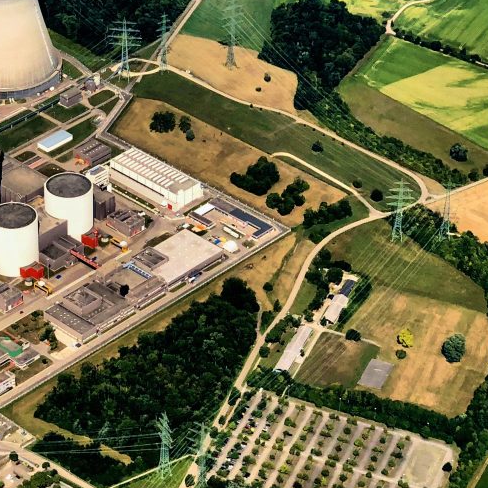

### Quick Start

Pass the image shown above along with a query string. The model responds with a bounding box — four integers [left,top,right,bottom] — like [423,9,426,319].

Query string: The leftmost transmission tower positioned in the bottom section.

[155,412,177,482]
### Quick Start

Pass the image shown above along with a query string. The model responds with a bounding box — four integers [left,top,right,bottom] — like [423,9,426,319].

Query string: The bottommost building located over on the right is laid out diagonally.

[273,324,314,375]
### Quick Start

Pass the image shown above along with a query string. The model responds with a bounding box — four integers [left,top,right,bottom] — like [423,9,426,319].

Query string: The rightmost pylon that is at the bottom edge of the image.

[191,420,211,482]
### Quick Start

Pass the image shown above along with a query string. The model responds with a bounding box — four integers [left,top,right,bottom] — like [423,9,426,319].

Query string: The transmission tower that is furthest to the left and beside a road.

[110,21,141,77]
